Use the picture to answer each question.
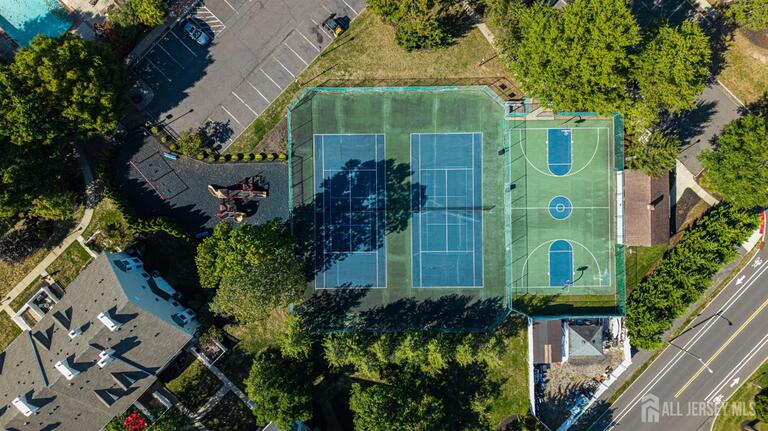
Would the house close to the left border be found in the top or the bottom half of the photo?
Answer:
bottom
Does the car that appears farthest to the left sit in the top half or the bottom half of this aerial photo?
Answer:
top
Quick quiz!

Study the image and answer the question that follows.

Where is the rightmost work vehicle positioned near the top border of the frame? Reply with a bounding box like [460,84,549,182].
[320,12,344,35]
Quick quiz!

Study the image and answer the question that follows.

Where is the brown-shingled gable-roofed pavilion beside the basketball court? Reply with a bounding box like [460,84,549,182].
[619,169,670,246]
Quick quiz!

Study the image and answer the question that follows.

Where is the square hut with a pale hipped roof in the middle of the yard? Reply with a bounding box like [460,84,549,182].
[568,324,602,364]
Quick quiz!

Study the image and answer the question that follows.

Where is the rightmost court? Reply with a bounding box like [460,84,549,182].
[511,127,609,287]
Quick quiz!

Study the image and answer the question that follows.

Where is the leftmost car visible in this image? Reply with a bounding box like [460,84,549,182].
[179,20,210,46]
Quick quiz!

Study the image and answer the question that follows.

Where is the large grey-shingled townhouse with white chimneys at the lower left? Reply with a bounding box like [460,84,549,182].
[0,251,210,431]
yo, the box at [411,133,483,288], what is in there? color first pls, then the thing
blue tennis court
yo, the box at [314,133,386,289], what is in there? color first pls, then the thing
blue tennis court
